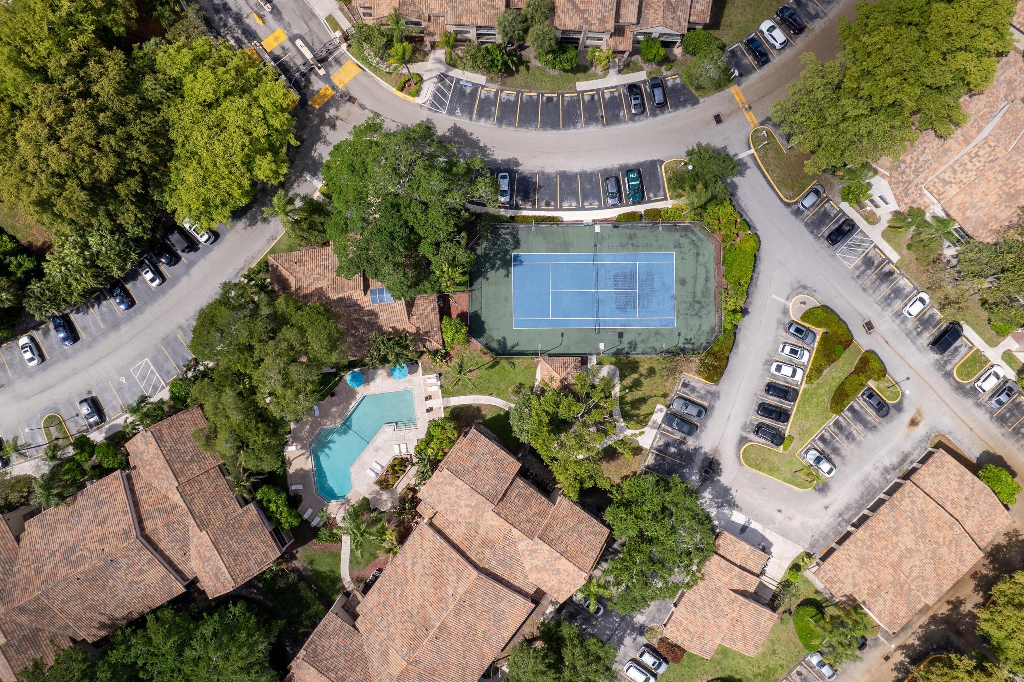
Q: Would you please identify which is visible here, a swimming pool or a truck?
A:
swimming pool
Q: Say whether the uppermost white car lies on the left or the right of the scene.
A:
right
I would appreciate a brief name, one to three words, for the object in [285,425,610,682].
building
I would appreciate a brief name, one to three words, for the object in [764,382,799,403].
car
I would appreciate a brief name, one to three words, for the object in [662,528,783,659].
building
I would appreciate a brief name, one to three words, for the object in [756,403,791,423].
car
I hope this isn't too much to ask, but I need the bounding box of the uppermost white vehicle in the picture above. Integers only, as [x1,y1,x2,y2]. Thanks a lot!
[760,18,788,52]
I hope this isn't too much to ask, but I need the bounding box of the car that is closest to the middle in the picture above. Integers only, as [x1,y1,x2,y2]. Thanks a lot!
[497,171,512,205]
